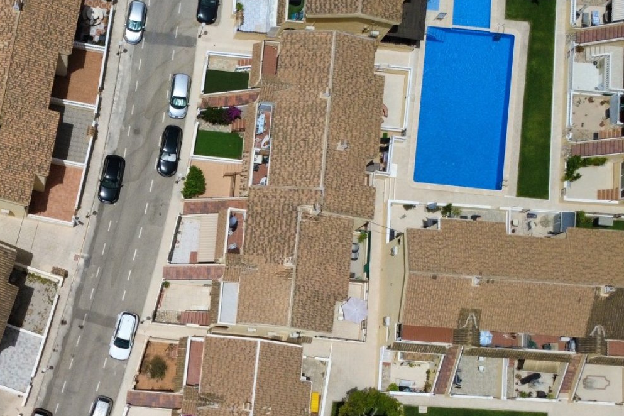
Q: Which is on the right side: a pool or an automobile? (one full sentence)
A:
You can see a pool on the right side.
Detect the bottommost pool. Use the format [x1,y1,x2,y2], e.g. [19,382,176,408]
[413,27,513,190]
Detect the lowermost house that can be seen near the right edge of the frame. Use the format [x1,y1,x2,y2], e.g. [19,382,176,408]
[383,219,624,368]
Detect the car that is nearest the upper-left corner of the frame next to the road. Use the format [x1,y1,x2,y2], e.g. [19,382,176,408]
[124,0,148,45]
